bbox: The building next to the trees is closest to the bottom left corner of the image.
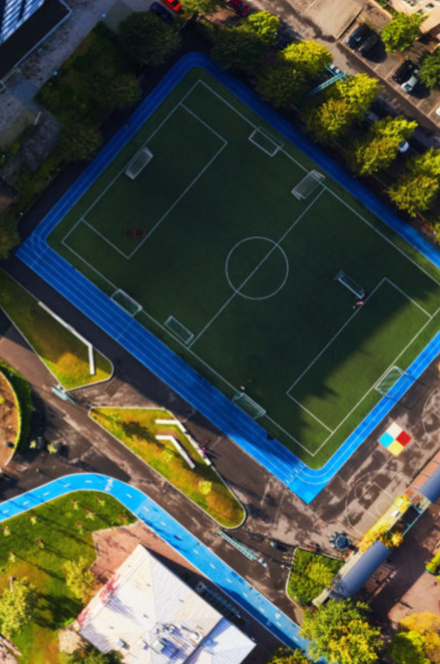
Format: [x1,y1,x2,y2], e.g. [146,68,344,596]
[78,546,256,664]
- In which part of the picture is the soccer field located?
center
